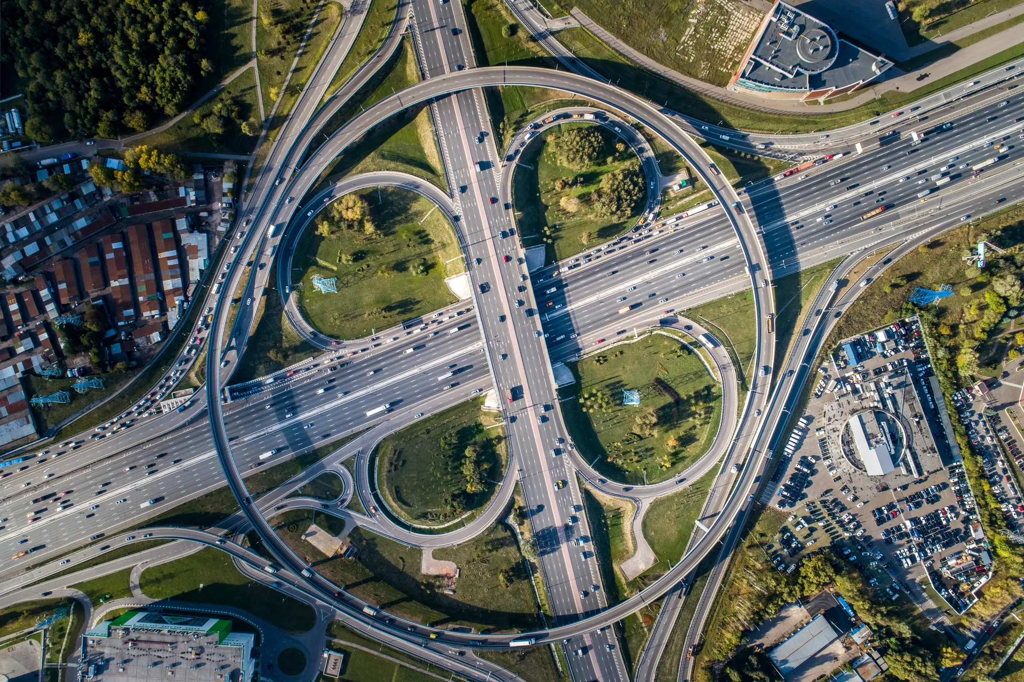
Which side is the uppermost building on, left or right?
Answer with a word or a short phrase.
right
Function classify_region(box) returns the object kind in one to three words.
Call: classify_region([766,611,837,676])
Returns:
building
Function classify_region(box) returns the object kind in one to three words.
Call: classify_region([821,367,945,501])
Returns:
building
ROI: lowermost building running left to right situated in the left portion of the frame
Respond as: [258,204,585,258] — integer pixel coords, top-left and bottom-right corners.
[77,605,254,682]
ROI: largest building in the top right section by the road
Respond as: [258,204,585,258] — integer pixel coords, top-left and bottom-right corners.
[731,1,894,104]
